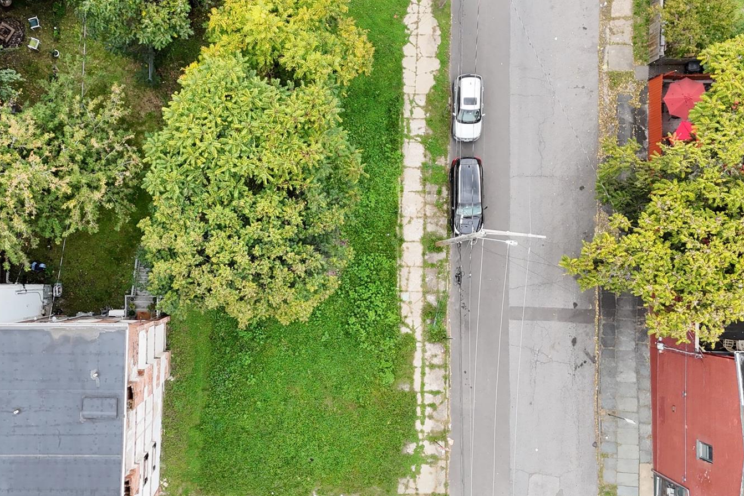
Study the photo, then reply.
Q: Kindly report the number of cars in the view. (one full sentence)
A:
In total, there are 2 cars in the scene.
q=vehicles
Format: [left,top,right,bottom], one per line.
[448,75,485,145]
[448,158,486,236]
